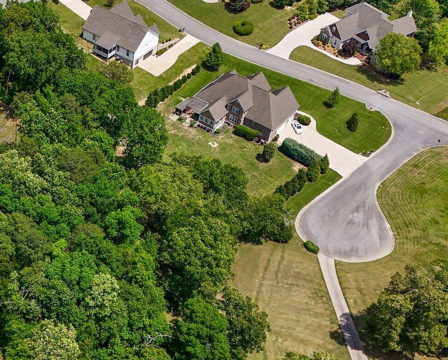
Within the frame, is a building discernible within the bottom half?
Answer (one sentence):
No, no building appears within the bottom half.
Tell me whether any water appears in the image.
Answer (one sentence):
No, the picture contains no water.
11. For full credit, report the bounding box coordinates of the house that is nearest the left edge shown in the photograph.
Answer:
[81,0,159,70]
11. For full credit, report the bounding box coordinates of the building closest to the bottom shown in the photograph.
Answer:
[163,67,299,141]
